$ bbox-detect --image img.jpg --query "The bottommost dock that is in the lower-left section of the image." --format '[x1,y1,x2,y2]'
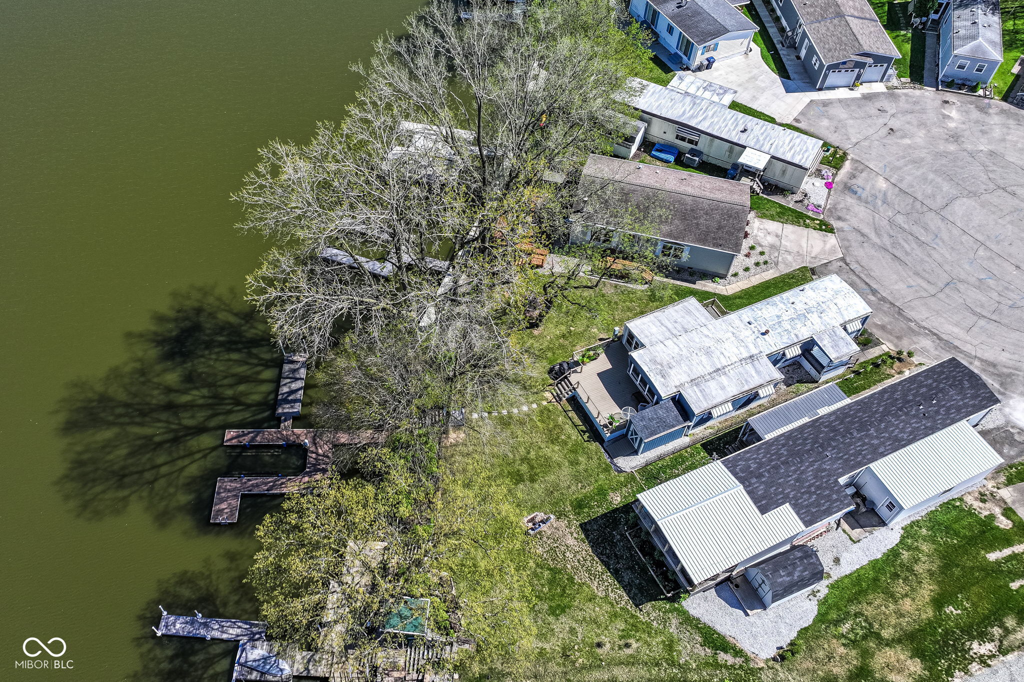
[223,641,300,682]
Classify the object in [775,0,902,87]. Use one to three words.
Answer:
house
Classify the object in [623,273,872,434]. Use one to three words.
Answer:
house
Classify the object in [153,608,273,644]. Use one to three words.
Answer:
pier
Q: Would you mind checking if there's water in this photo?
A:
Yes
